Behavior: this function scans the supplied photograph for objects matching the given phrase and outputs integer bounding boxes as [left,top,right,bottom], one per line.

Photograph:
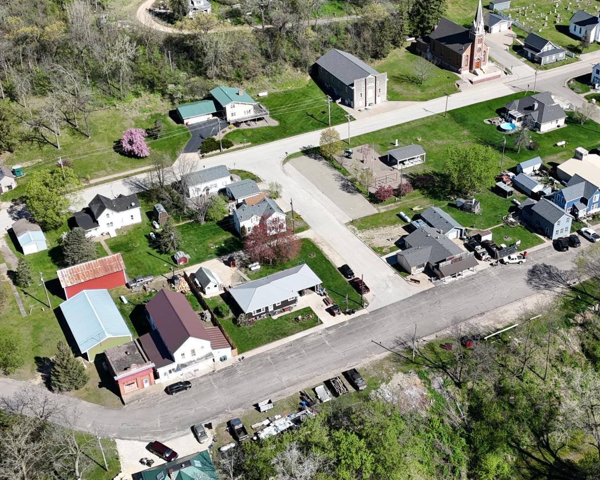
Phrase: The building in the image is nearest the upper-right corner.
[565,9,600,43]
